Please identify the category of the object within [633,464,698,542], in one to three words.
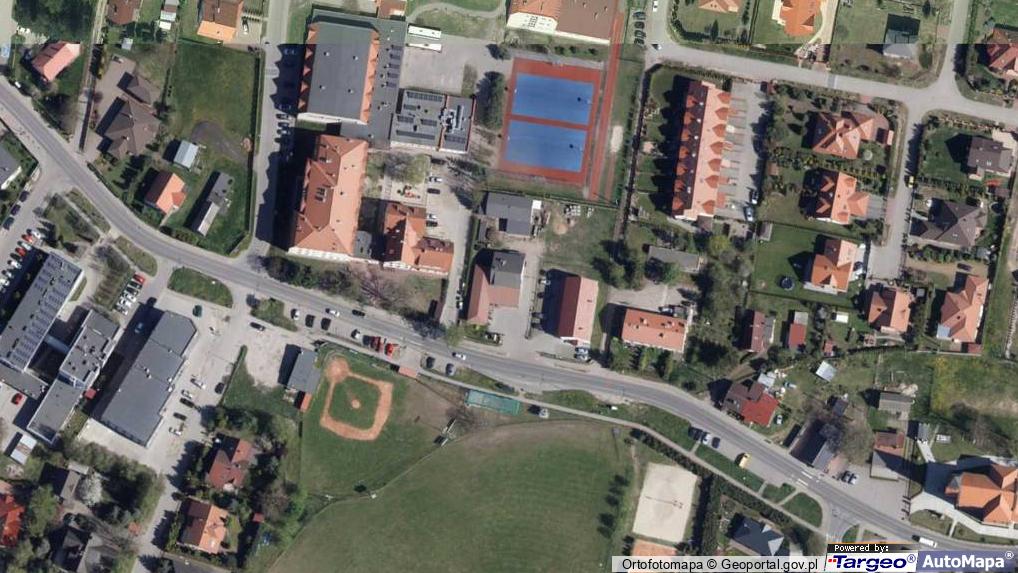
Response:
sports court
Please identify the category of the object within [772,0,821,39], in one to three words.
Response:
house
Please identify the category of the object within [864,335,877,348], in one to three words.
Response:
gazebo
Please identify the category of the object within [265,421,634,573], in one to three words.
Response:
sports field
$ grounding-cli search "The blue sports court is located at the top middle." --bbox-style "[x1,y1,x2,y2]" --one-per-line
[499,57,601,188]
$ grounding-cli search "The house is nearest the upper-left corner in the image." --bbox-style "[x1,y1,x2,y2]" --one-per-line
[29,37,80,81]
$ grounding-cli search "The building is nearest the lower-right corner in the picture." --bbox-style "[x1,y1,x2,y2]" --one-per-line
[945,456,1018,531]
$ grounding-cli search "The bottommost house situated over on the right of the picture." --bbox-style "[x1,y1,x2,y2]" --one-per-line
[732,516,788,568]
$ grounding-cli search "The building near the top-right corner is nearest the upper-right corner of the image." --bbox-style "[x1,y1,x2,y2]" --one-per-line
[986,28,1018,83]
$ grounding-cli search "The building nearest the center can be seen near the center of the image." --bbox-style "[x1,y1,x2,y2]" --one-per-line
[466,251,525,326]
